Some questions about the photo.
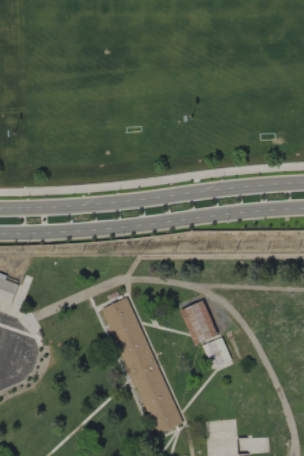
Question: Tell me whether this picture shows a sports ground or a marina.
sports ground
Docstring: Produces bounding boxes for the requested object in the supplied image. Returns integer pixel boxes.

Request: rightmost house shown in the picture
[202,338,233,369]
